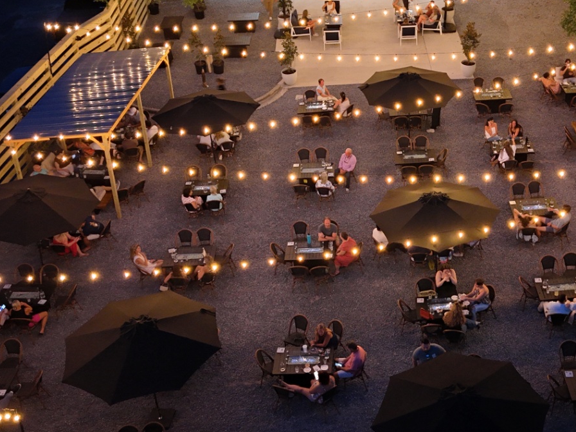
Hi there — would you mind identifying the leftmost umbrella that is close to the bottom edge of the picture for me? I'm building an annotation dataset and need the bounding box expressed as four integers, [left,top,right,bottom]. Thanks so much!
[68,292,224,415]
